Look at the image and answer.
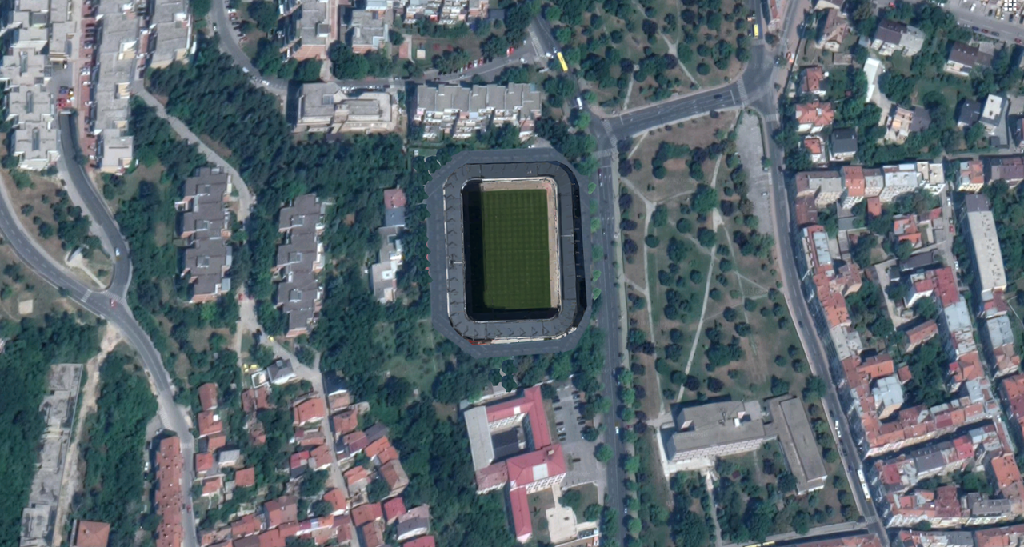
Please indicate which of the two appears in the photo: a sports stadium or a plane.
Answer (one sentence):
I can see a sports stadium in this picture.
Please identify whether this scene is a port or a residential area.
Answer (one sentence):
The area seen from above is a residential area.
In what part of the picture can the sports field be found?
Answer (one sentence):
The sports field appears toward the center of the photo.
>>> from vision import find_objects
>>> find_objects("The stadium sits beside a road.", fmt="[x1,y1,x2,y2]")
[425,149,591,358]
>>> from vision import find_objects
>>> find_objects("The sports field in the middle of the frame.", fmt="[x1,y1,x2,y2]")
[482,189,550,310]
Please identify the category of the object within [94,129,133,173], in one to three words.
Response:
building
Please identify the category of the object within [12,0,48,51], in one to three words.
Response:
building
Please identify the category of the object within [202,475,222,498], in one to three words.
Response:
house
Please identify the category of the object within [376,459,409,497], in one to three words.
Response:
house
